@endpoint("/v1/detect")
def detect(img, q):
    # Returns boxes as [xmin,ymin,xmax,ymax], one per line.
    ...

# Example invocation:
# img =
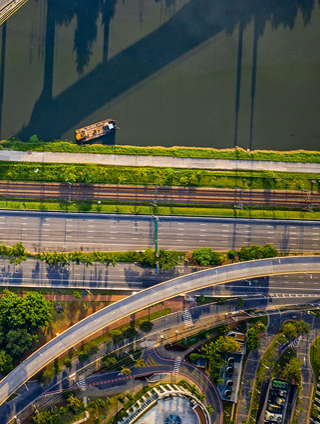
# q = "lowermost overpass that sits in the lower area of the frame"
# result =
[0,254,320,408]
